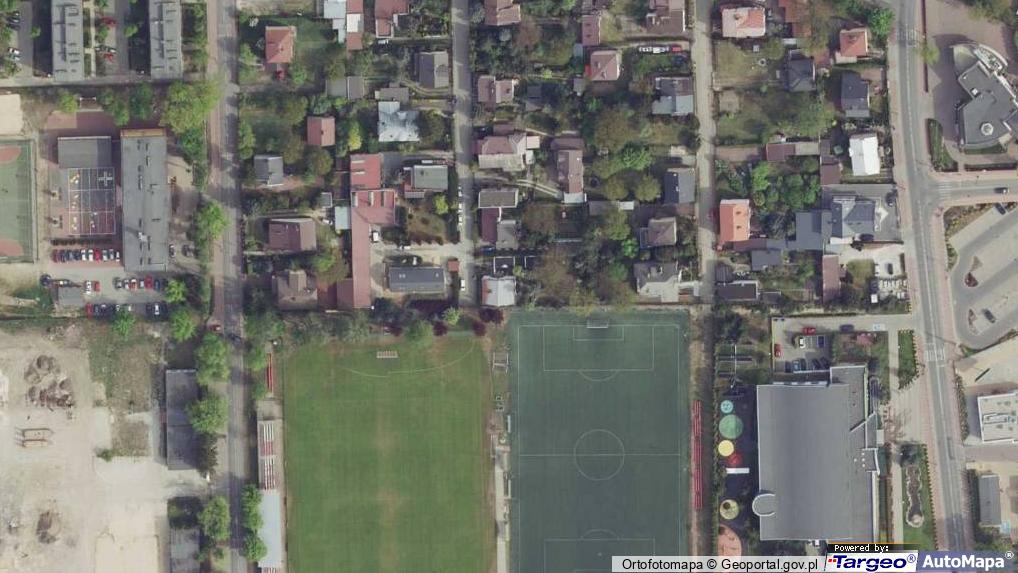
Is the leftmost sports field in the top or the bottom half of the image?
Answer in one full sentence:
It is in the bottom half that the leftmost sports field appears.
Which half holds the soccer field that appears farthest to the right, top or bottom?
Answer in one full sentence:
The soccer field that appears farthest to the right is in the bottom half of the image.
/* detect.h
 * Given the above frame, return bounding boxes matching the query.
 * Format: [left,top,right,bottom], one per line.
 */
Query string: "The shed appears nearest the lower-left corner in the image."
[169,526,201,573]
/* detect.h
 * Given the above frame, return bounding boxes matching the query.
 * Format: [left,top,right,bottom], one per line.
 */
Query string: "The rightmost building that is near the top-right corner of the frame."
[949,37,1018,153]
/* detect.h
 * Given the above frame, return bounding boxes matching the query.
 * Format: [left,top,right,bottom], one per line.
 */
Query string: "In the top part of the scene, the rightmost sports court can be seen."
[69,168,115,235]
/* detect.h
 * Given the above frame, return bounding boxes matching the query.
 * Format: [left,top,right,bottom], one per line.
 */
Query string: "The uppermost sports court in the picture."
[0,95,21,135]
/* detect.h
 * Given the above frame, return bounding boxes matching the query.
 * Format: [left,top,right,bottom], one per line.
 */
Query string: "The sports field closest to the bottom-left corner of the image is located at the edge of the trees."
[269,312,510,573]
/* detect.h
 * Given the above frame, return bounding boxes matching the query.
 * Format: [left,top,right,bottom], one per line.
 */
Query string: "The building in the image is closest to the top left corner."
[52,0,85,81]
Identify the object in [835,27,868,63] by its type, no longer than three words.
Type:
house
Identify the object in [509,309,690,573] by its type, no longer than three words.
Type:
soccer field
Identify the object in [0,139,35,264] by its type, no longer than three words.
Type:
sports court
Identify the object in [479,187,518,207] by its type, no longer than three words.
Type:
building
